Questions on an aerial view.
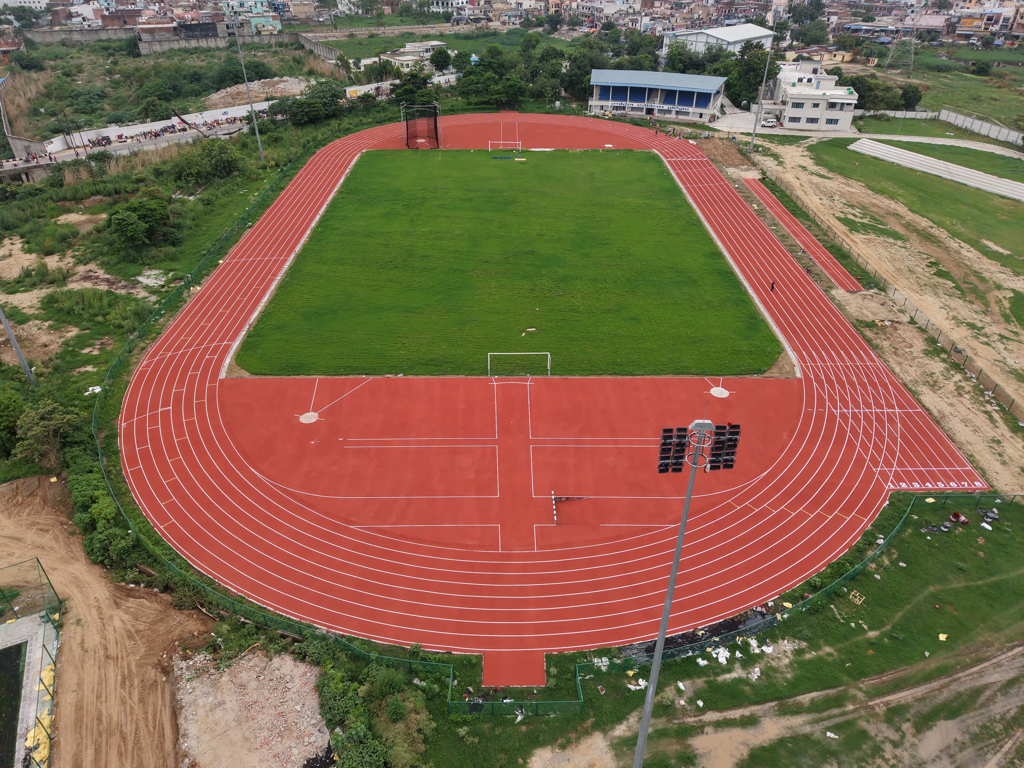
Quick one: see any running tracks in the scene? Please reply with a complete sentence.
Yes, there's a running track here.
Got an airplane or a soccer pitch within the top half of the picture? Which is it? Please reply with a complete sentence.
The feature located within the top half of the picture is a soccer pitch.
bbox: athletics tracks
[118,111,1005,686]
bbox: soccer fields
[236,150,784,375]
